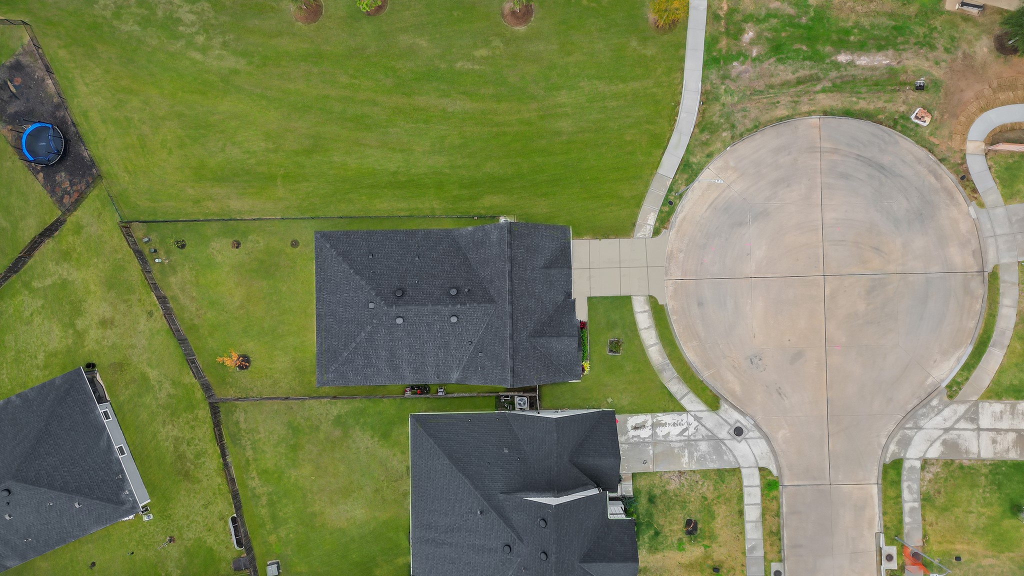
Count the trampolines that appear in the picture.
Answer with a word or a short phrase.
1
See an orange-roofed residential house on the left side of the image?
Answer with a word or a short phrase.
No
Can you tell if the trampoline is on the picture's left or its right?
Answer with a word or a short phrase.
left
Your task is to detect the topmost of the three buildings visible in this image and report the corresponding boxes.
[314,223,582,391]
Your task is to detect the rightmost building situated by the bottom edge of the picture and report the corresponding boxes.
[408,406,639,576]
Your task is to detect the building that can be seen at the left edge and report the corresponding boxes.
[0,366,162,576]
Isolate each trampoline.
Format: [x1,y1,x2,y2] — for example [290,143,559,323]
[6,117,71,168]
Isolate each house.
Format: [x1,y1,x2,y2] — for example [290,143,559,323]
[408,406,639,576]
[0,366,162,576]
[314,223,582,391]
